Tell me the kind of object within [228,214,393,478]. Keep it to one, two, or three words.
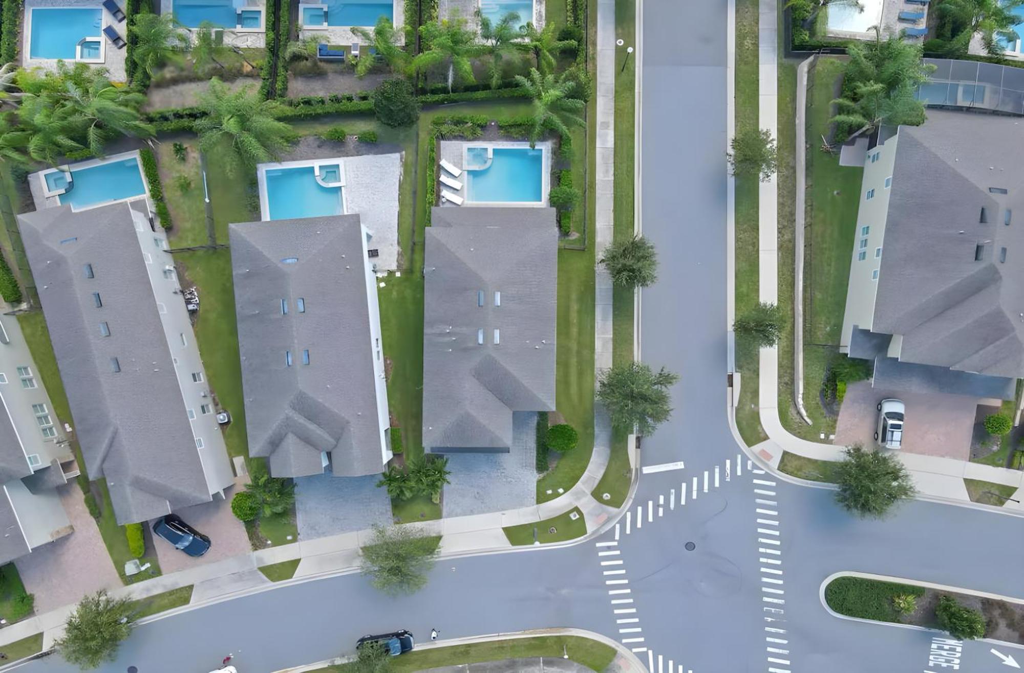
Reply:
house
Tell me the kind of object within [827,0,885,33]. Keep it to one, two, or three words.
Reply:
swimming pool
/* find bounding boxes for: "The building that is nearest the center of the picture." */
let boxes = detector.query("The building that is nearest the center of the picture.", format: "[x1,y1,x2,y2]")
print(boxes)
[424,207,558,454]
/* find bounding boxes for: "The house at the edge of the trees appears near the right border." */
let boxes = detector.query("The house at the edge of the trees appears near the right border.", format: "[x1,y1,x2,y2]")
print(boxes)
[843,109,1024,400]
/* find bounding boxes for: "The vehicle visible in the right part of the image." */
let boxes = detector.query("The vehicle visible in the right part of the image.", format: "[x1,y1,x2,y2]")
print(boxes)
[877,397,911,451]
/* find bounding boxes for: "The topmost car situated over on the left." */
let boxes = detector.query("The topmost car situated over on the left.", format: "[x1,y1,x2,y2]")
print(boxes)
[152,513,211,558]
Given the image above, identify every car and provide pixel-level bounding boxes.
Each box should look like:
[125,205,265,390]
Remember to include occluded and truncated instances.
[354,629,413,661]
[190,663,239,673]
[152,513,211,558]
[877,397,911,451]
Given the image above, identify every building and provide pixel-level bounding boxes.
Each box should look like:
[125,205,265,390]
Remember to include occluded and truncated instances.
[228,214,393,478]
[843,109,1024,400]
[16,197,237,525]
[0,244,82,565]
[424,207,558,454]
